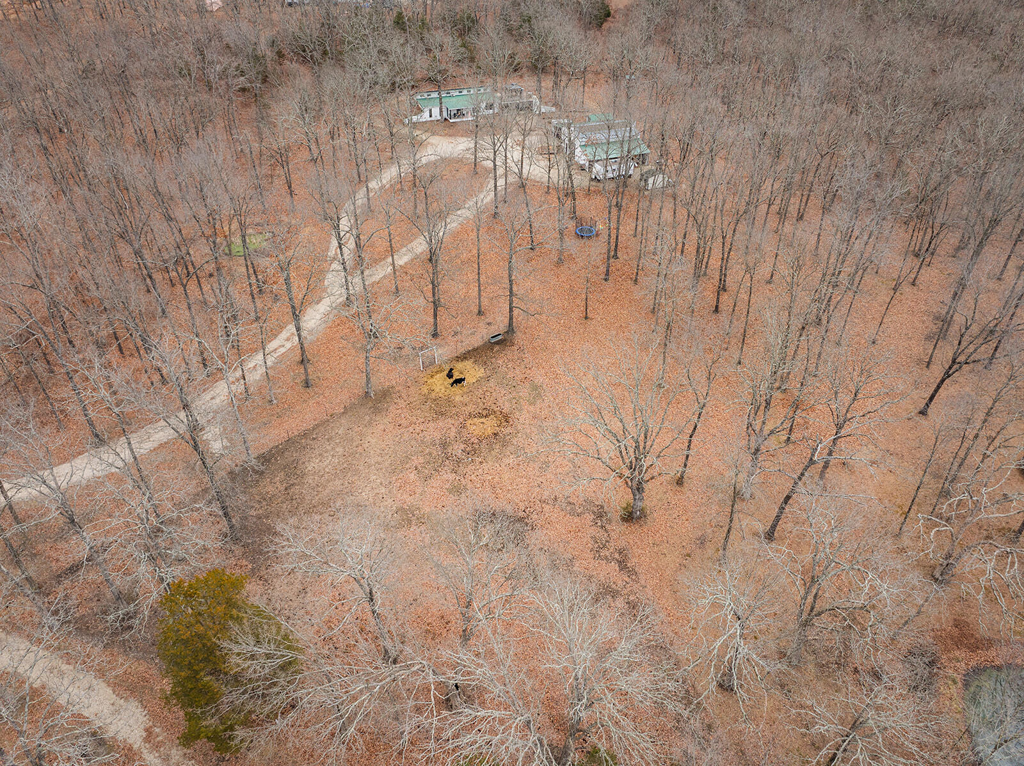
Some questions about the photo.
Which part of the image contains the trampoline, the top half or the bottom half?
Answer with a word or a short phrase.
top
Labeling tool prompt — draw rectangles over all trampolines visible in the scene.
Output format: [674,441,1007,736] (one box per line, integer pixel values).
[575,217,596,240]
